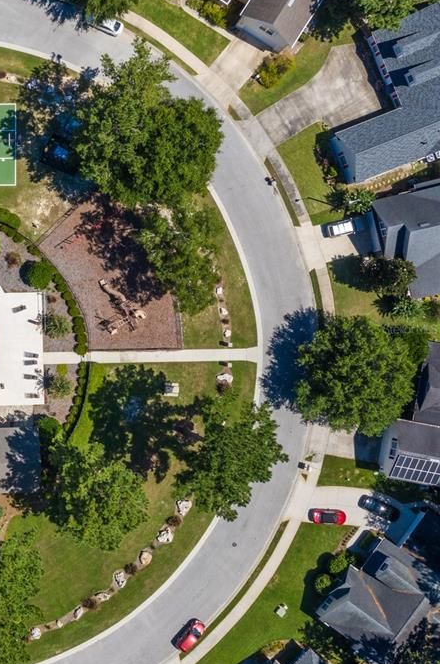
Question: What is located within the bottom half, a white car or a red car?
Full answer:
You can see a red car within the bottom half.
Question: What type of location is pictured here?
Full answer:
It's a residential area.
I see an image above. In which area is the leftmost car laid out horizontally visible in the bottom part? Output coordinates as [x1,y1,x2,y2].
[311,507,347,526]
